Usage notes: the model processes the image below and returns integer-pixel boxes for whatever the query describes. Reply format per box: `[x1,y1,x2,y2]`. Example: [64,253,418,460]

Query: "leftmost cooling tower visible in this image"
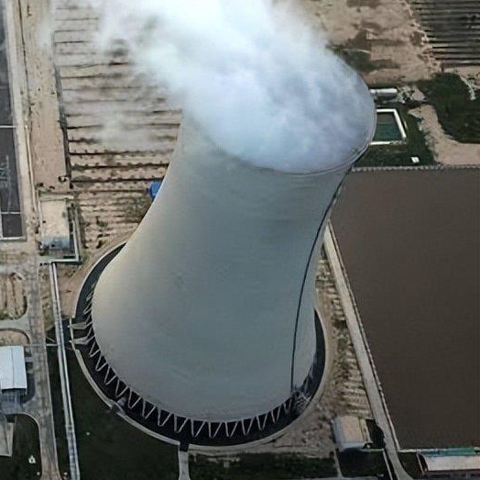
[70,33,379,450]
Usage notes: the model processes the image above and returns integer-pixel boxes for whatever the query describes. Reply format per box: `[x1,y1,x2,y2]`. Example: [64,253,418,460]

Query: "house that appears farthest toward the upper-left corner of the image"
[40,198,70,238]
